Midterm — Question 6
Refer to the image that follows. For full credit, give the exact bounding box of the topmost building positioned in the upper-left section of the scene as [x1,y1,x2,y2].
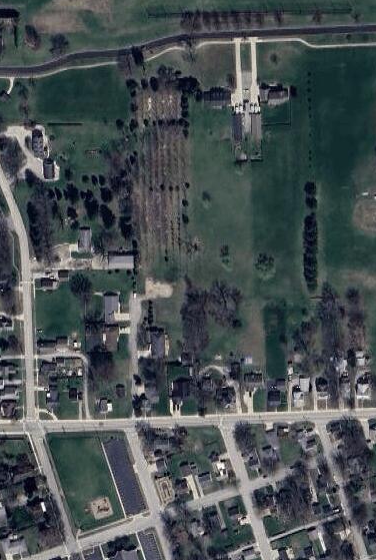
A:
[31,129,46,157]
